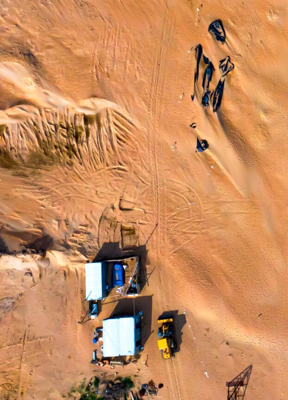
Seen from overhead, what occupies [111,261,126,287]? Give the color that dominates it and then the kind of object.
blue vehicle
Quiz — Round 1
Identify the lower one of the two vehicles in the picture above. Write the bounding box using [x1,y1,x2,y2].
[158,309,177,358]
